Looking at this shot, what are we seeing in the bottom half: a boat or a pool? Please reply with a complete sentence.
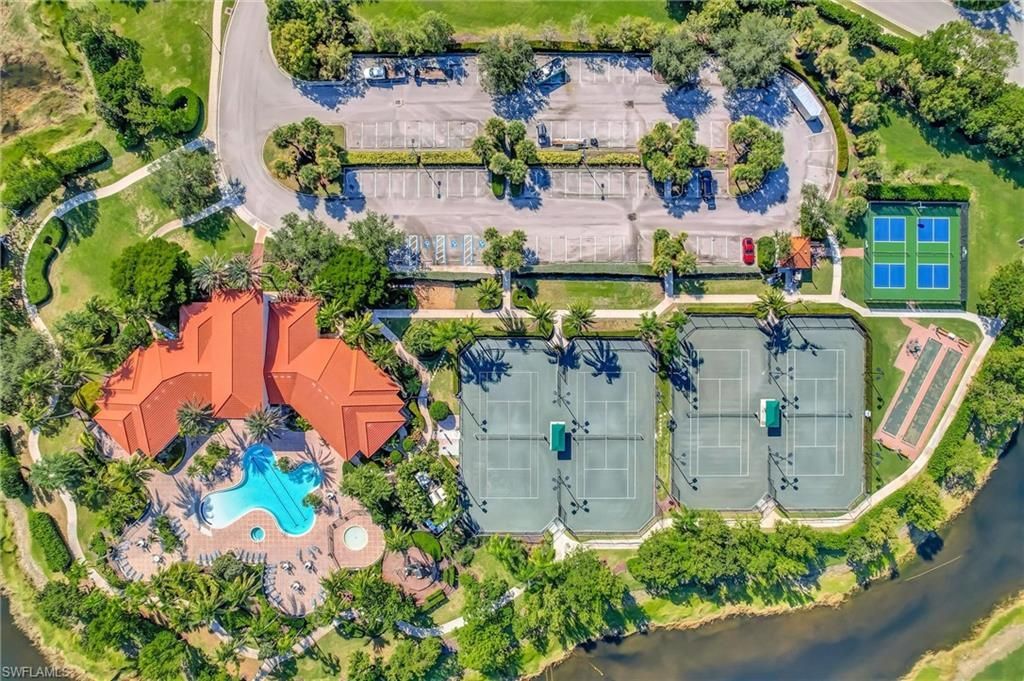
Visible in the bottom half is a pool.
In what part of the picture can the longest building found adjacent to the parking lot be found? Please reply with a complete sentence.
The longest building found adjacent to the parking lot is located in the left region of the scene.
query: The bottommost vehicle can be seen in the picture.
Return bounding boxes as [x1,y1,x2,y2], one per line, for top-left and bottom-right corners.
[744,238,756,263]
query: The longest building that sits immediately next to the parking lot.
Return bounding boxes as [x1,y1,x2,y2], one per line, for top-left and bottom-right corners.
[94,291,406,460]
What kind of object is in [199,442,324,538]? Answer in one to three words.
swimming pool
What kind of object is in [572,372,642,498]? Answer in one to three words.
tennis court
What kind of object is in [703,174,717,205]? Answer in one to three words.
vehicle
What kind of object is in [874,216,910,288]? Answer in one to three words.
sports court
